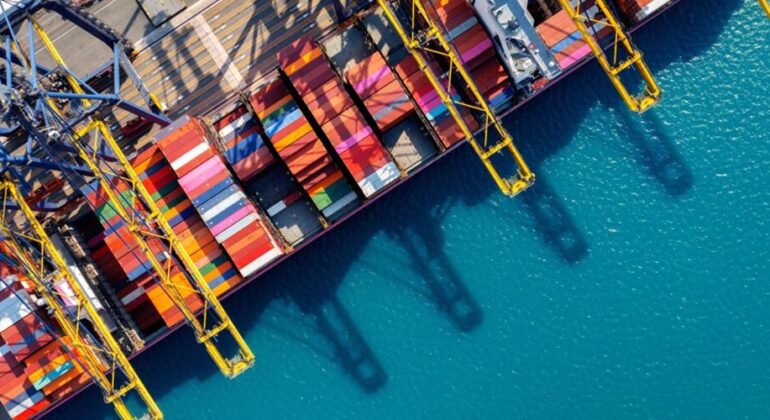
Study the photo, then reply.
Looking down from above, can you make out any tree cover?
No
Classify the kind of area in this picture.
port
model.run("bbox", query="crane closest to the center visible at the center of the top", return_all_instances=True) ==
[326,0,541,201]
